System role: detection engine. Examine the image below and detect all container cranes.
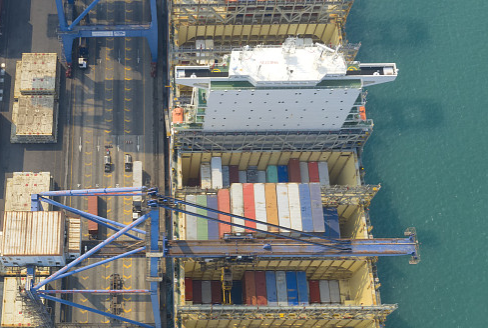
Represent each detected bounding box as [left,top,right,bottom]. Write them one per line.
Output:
[0,173,433,328]
[53,0,157,77]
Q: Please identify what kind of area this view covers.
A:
port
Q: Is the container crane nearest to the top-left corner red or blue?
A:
blue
